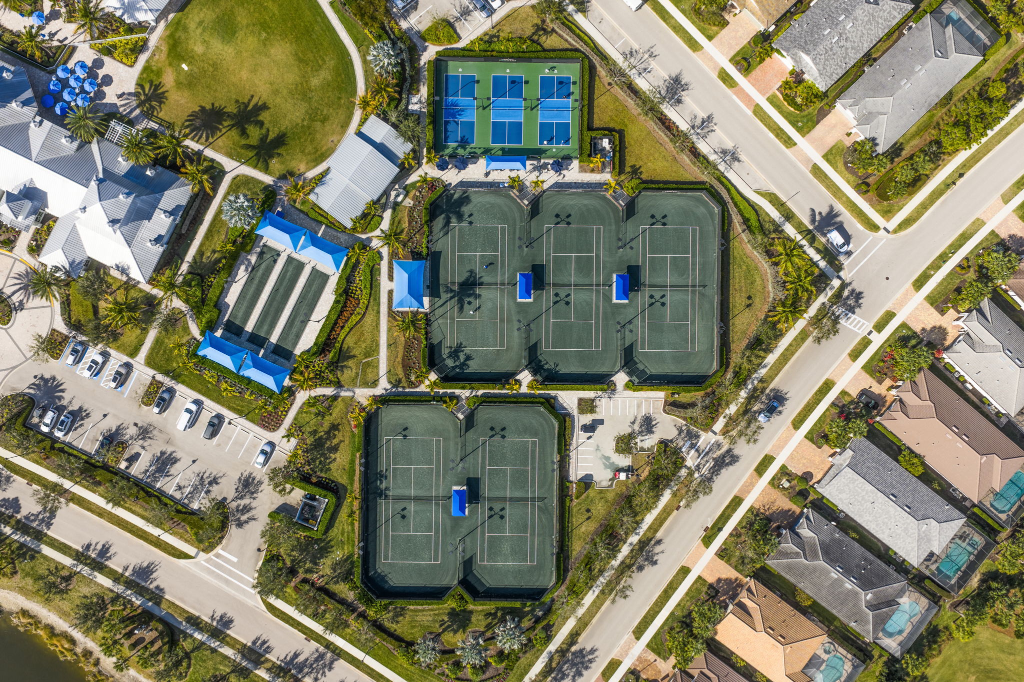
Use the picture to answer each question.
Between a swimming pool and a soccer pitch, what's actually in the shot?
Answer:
swimming pool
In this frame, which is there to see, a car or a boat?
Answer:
car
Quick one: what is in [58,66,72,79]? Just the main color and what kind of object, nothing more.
blue umbrella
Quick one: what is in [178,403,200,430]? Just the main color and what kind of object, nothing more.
white car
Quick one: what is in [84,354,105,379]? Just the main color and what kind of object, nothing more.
white car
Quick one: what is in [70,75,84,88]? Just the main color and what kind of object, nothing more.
blue umbrella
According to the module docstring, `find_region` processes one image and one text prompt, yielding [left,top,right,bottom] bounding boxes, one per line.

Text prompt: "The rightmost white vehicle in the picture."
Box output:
[826,227,847,254]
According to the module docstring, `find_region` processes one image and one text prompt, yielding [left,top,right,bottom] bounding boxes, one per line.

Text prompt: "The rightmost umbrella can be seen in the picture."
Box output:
[550,159,563,173]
